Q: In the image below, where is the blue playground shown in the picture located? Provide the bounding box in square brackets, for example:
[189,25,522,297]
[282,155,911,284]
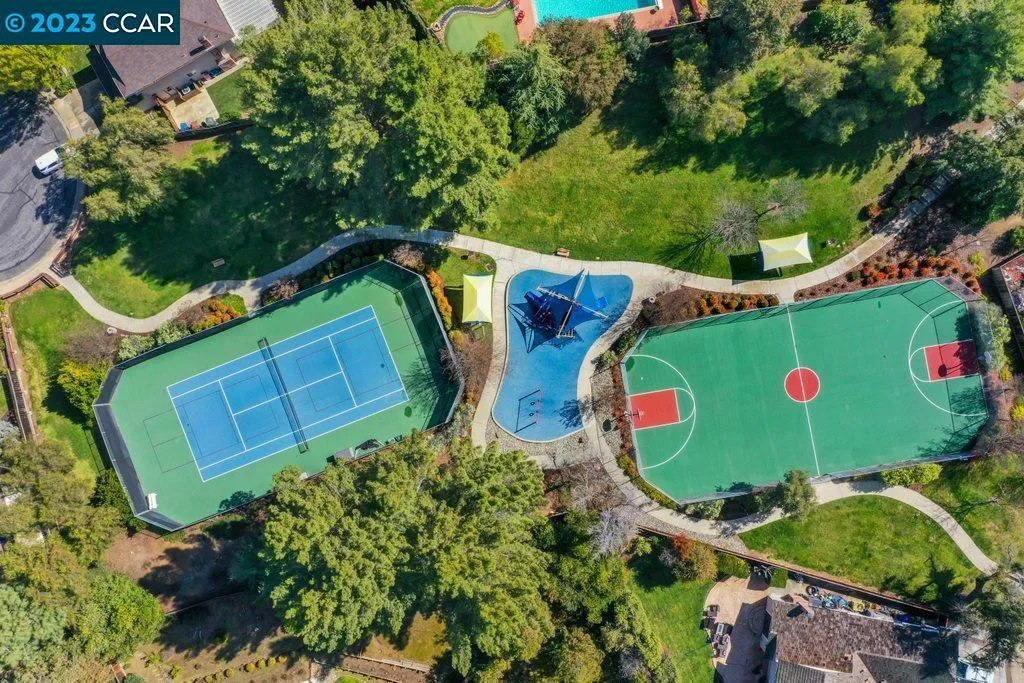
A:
[491,270,633,443]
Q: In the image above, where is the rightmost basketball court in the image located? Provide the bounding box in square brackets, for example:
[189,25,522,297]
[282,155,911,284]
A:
[620,277,990,504]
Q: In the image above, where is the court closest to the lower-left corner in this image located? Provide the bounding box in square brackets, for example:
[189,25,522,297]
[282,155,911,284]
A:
[110,265,464,523]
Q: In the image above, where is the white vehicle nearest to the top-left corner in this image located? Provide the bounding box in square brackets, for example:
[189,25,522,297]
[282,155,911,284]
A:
[32,146,74,175]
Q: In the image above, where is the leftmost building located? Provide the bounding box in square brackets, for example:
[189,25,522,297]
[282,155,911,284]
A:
[70,0,239,102]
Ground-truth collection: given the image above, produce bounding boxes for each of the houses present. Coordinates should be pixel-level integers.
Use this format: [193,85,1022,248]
[760,592,959,683]
[70,0,239,102]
